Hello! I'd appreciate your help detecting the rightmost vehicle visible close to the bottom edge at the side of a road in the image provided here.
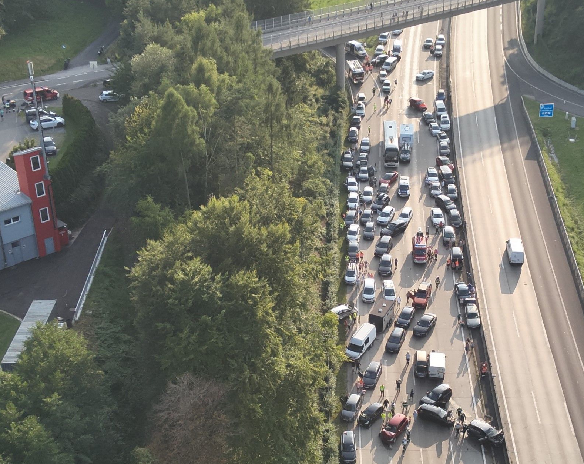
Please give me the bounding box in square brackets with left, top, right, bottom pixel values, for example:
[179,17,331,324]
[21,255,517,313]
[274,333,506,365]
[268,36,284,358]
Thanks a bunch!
[467,414,503,445]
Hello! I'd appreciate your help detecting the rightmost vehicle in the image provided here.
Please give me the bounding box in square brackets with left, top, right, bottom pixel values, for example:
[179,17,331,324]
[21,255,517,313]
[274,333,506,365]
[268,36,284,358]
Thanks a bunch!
[507,239,524,262]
